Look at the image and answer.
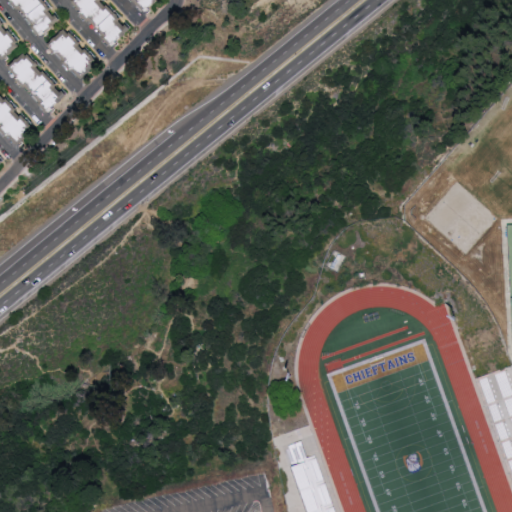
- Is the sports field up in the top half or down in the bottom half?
bottom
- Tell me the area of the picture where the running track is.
bottom right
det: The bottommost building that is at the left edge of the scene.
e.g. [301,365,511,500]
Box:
[0,94,30,139]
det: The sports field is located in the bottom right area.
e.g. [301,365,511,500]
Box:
[320,307,496,512]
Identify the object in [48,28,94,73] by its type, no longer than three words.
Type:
house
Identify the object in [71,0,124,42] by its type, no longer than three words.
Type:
house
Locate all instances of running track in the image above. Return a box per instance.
[299,286,512,512]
